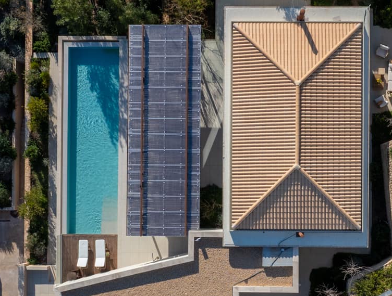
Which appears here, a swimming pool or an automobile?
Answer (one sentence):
The one in the frame is a swimming pool.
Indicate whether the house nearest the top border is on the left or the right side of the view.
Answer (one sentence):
You can find the house nearest the top border on the right side of the picture.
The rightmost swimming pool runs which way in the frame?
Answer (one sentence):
The rightmost swimming pool is laid out up and down.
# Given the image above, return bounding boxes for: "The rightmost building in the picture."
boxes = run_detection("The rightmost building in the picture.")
[223,4,370,248]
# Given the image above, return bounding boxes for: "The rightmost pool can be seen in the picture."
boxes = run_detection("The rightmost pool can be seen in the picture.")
[62,42,119,235]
